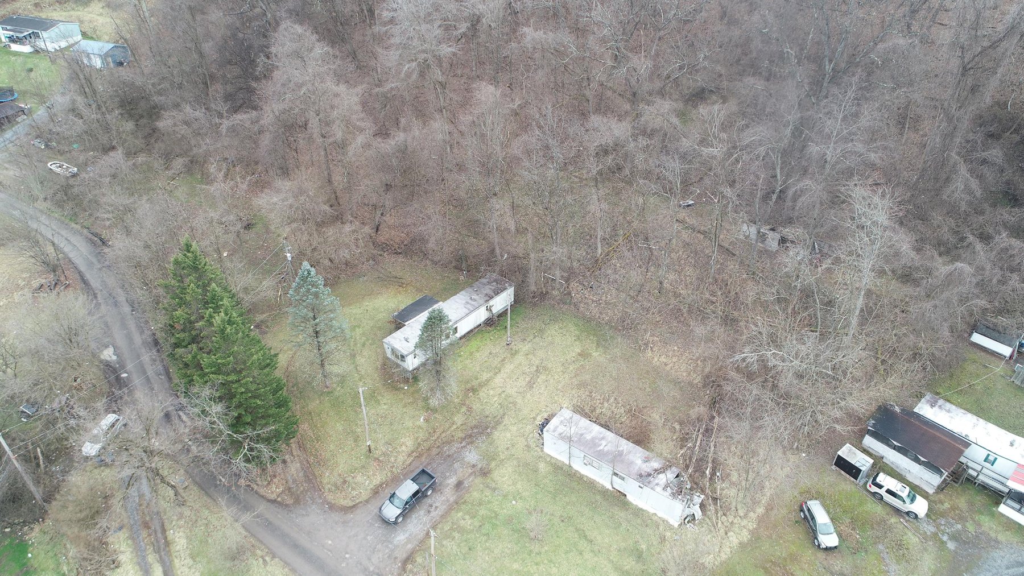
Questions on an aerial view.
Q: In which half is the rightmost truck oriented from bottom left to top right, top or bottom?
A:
bottom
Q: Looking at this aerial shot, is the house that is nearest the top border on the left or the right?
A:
left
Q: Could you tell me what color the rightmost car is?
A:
white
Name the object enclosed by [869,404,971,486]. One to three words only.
shed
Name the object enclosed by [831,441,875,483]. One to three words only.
shed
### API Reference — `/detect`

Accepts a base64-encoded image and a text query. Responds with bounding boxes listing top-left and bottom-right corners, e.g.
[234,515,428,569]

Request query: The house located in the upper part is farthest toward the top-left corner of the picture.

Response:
[2,4,89,51]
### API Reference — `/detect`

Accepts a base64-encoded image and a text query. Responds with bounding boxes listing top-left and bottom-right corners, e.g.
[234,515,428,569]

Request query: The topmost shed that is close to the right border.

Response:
[971,319,1024,358]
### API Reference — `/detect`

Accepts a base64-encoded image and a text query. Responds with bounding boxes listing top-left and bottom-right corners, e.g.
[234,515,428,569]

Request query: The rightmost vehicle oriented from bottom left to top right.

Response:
[379,470,437,522]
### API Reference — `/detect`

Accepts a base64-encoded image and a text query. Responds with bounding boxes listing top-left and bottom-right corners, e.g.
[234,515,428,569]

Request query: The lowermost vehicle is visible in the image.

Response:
[801,499,840,548]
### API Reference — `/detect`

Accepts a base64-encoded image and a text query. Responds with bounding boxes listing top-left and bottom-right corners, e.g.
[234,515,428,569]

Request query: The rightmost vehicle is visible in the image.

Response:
[869,477,929,520]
